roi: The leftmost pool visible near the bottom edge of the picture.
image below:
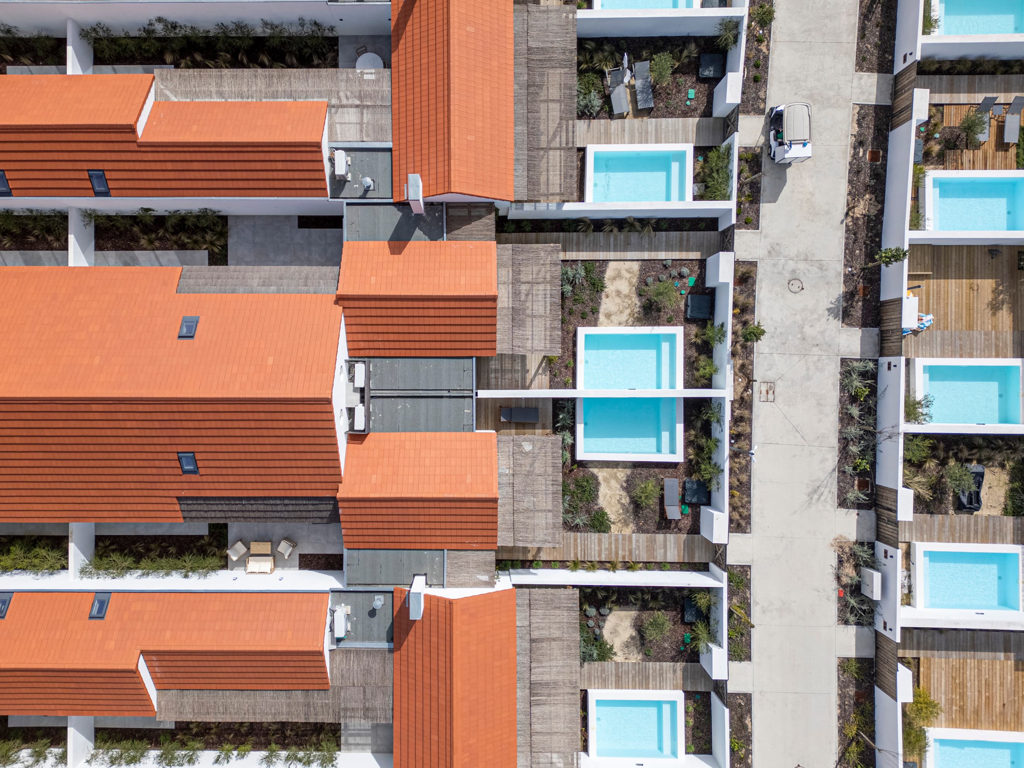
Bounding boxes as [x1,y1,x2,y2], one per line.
[587,687,684,759]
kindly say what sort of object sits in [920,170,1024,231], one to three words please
swimming pool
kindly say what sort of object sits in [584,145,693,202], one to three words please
swimming pool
